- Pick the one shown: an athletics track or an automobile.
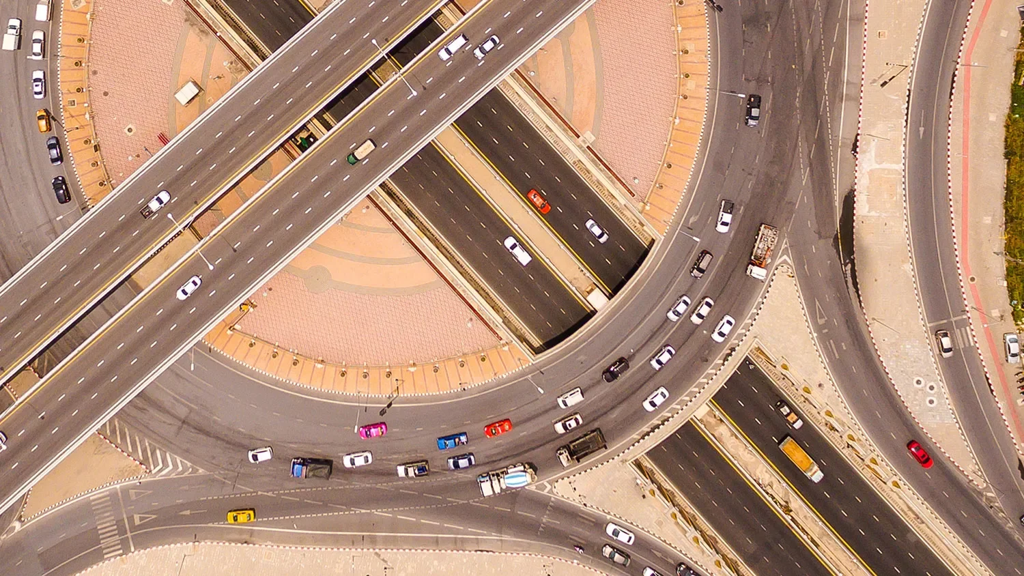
automobile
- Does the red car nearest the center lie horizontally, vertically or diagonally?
diagonally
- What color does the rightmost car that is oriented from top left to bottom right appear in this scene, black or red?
red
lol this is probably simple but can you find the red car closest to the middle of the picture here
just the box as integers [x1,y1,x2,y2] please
[526,188,550,213]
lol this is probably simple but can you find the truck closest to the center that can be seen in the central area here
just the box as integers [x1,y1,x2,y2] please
[504,236,531,265]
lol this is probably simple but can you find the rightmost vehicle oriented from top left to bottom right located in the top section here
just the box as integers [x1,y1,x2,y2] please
[584,218,607,242]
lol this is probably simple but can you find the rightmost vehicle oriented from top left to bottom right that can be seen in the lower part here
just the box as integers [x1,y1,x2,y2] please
[907,440,931,467]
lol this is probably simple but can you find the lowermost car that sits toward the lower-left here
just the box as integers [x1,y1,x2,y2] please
[227,508,255,523]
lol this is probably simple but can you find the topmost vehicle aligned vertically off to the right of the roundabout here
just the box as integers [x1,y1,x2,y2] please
[745,94,760,126]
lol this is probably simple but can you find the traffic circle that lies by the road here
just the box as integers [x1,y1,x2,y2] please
[57,0,711,397]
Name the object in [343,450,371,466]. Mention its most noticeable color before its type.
white car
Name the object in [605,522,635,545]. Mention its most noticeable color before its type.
white car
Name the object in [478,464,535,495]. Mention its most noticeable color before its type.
white truck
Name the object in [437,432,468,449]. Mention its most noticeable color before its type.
blue vehicle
